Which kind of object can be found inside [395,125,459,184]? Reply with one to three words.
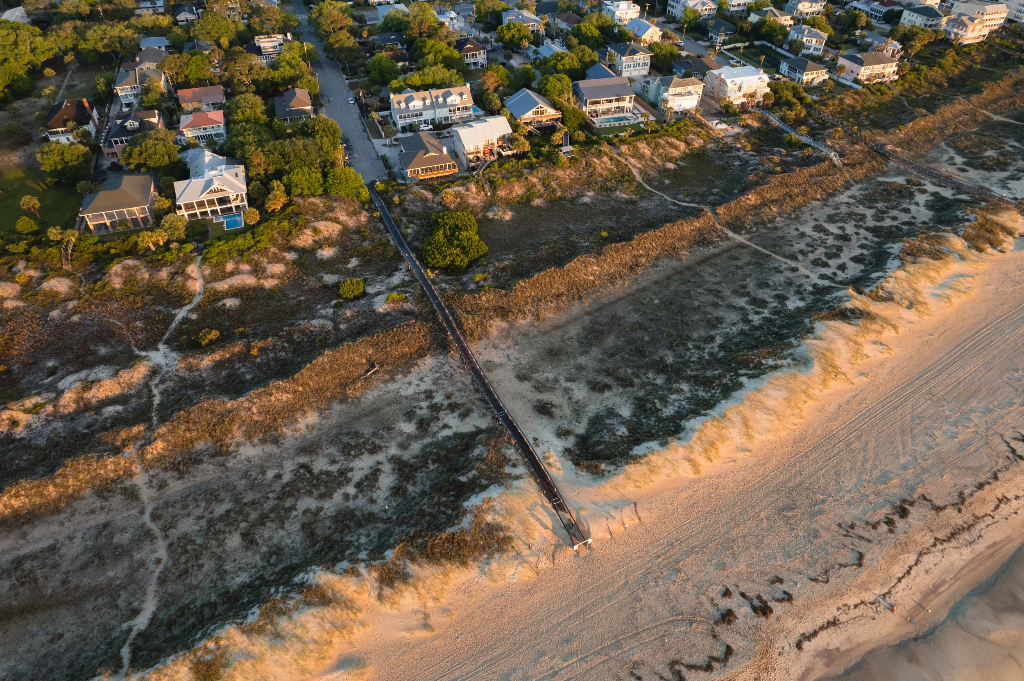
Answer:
house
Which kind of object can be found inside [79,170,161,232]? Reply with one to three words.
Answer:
house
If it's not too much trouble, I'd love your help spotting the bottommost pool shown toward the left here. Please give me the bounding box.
[214,212,244,229]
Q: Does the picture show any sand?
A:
Yes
